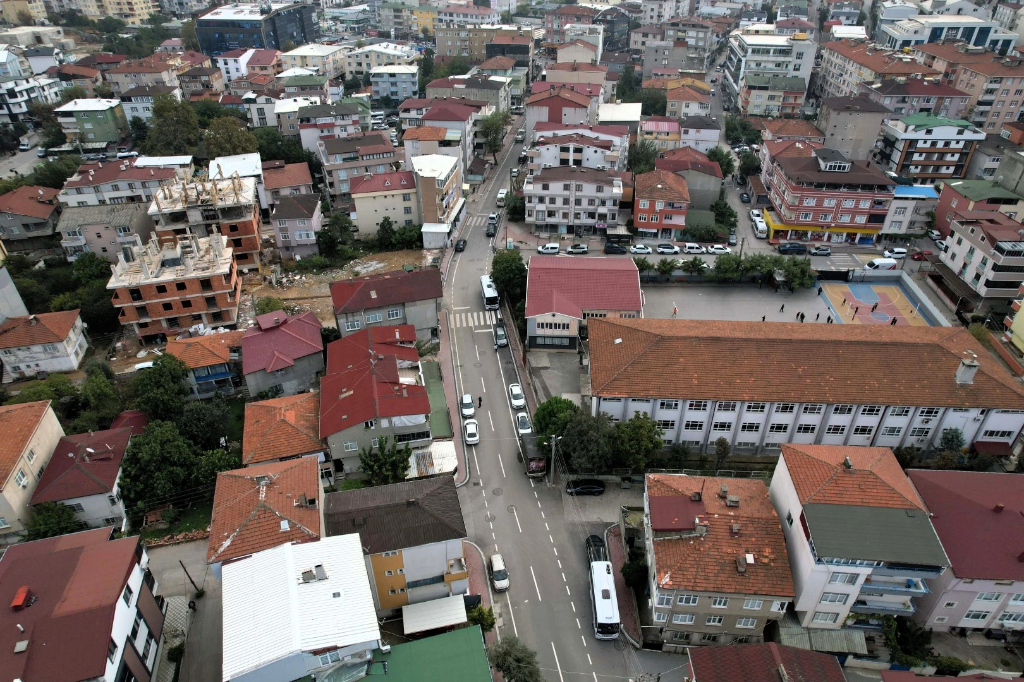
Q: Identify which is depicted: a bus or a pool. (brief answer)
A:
bus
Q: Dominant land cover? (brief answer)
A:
buildings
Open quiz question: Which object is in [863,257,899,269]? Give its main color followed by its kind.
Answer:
white vehicle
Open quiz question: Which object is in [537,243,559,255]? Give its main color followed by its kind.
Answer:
white vehicle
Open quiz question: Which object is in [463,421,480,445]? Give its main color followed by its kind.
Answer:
white car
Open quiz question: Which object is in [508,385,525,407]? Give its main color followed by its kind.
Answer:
white car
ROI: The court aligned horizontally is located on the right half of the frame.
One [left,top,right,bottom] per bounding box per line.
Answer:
[815,283,945,325]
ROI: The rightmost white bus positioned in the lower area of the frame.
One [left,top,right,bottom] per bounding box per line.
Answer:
[589,555,629,636]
